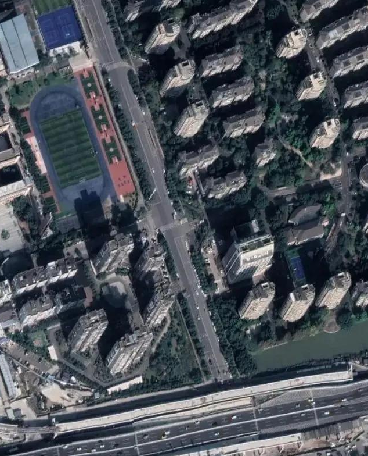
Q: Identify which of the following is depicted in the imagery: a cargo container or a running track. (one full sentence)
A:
The image shows a running track.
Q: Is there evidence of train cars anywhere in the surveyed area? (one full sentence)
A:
No, the photo shows no train car.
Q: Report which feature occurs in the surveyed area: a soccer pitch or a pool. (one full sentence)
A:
Of the two, only a soccer pitch appears.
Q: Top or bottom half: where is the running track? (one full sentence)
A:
The running track is in the top half of the image.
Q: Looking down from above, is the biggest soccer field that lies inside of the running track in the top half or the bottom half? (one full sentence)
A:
The biggest soccer field that lies inside of the running track sits in the top half of the picture.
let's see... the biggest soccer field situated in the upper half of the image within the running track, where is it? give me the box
[41,110,102,188]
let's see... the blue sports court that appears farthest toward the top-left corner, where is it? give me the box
[38,6,82,49]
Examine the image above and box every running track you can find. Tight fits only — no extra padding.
[30,74,115,208]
